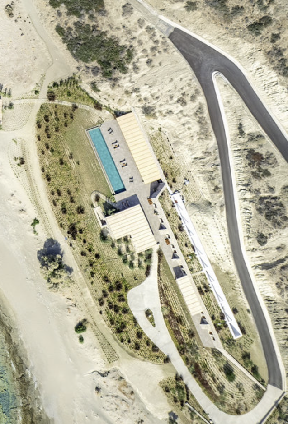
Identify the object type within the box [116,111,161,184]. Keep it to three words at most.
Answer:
building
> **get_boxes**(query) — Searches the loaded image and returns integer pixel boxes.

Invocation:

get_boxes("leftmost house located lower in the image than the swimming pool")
[105,204,157,252]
